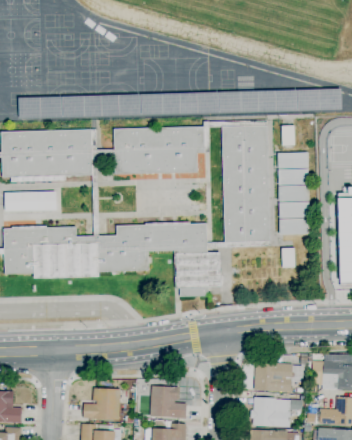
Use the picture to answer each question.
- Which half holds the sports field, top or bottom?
top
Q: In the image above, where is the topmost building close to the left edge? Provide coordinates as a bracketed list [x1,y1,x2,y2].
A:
[1,128,94,176]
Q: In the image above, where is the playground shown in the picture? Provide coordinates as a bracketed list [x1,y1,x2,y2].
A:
[0,0,352,120]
